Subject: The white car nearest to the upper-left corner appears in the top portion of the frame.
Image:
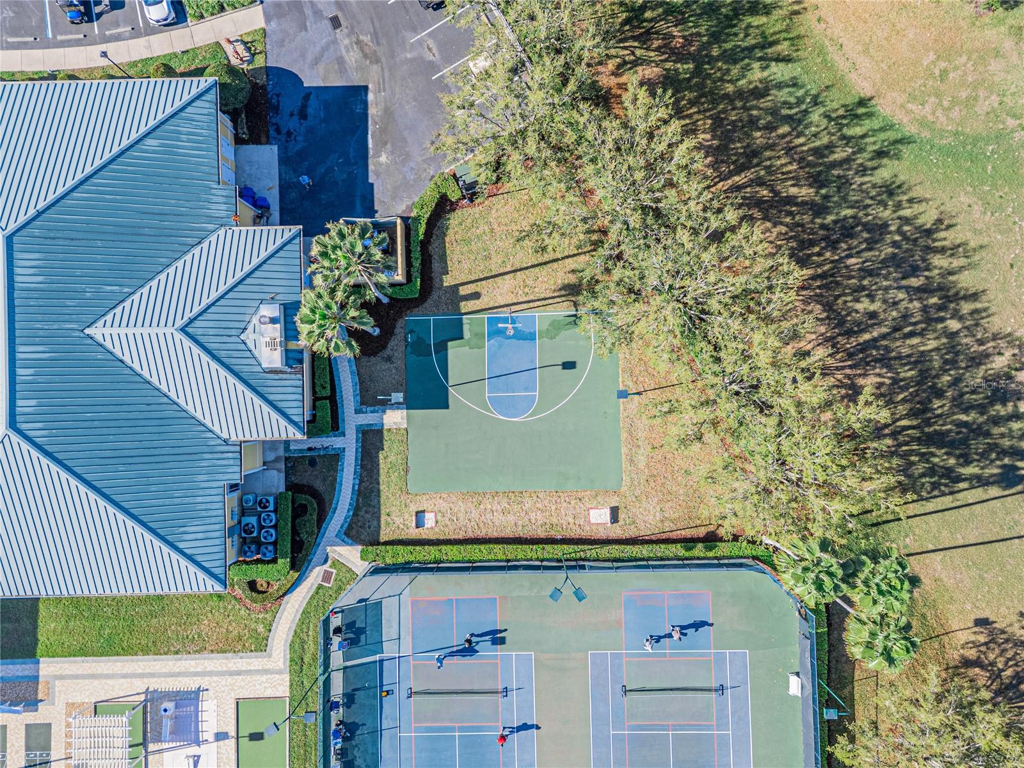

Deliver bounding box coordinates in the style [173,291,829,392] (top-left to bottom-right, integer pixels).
[139,0,176,25]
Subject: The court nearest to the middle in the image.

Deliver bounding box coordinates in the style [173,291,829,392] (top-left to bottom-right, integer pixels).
[405,310,622,492]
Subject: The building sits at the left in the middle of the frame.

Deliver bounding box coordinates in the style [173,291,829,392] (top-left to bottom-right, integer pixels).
[0,76,315,600]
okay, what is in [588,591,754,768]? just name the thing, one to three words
tennis court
